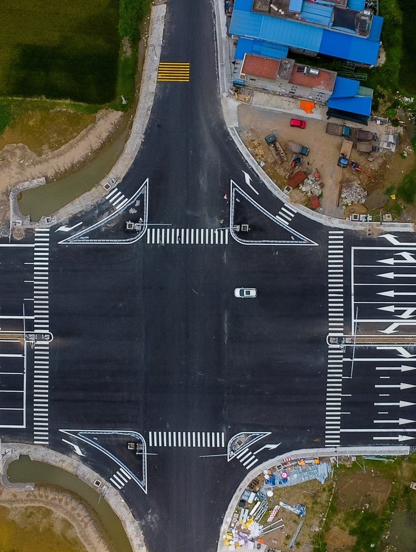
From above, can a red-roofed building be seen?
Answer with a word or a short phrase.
Yes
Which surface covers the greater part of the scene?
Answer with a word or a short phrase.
paved ground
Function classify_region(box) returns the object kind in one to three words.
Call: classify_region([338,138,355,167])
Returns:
vehicle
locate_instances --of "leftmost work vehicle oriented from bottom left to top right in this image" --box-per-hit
[282,152,305,177]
